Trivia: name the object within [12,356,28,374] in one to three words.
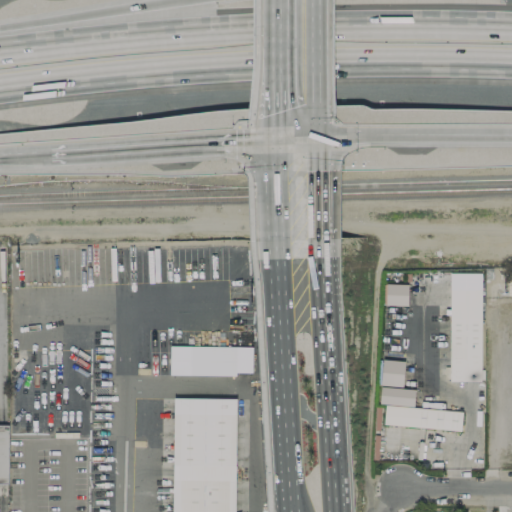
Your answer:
vehicle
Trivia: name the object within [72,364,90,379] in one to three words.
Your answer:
vehicle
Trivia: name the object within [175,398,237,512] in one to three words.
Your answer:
building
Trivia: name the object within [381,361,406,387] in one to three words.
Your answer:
building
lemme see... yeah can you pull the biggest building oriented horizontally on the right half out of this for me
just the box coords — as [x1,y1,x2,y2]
[385,406,466,432]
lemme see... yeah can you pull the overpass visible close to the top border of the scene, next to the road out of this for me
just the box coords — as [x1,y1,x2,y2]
[249,0,336,106]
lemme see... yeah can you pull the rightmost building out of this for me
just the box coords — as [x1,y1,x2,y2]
[452,274,484,382]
